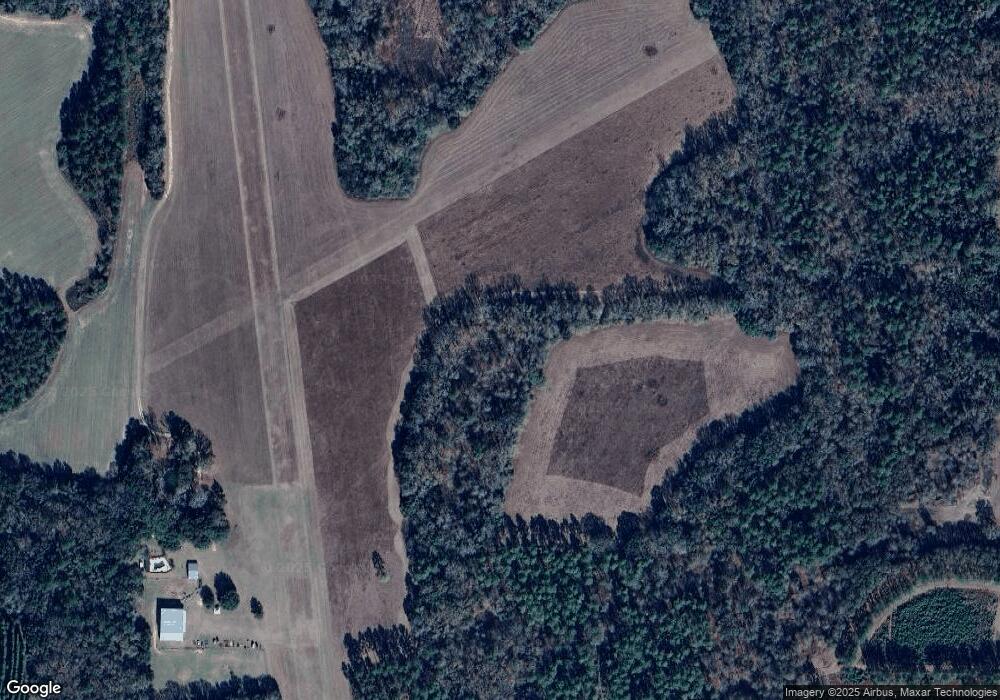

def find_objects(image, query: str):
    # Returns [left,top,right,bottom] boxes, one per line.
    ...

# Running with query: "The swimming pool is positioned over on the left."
[149,557,171,572]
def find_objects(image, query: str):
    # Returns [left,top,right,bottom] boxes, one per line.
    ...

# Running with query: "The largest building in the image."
[160,608,187,641]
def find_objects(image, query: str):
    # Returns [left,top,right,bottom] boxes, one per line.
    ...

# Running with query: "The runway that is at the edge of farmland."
[144,0,723,700]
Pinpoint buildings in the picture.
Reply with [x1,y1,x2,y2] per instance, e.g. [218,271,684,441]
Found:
[188,563,198,580]
[160,608,187,641]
